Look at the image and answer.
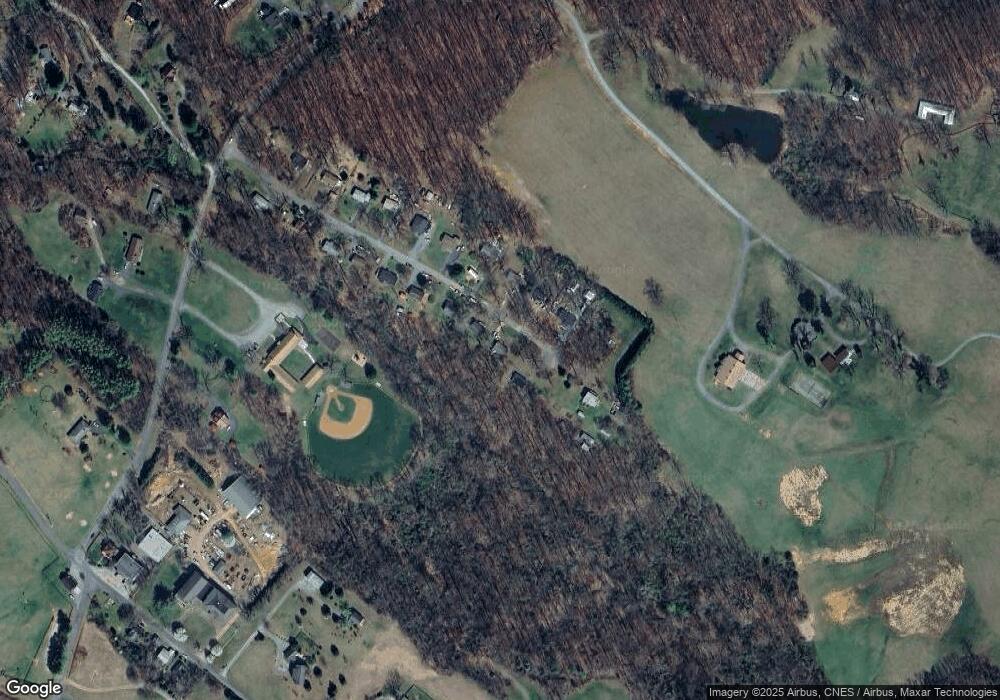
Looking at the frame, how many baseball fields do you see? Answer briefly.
1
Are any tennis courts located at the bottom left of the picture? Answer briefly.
No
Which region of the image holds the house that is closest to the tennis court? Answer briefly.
right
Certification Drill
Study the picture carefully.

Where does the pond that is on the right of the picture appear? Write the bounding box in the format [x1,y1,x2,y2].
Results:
[666,89,784,163]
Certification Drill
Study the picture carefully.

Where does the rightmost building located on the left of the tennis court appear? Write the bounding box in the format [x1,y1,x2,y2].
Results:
[714,351,748,389]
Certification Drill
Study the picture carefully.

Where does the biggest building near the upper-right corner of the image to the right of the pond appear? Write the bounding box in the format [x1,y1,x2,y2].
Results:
[917,100,956,126]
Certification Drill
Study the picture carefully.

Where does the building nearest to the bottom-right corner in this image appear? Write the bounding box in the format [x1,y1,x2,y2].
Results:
[819,345,850,372]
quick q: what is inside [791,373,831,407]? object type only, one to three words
tennis court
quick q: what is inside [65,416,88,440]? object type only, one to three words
house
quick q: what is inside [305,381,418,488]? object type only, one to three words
baseball field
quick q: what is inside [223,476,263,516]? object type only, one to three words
barn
